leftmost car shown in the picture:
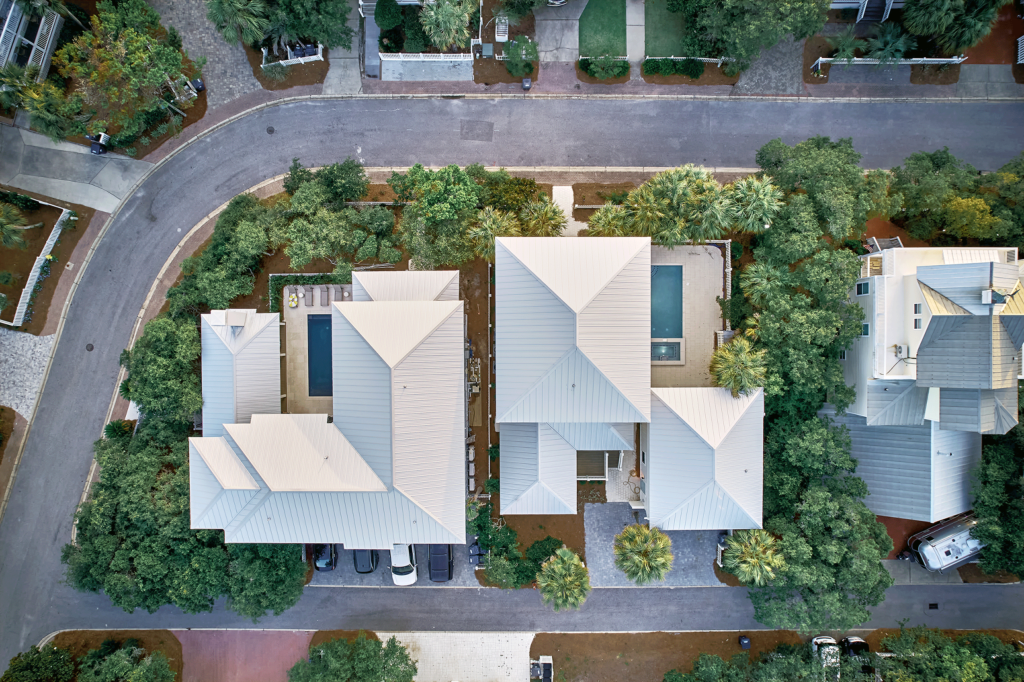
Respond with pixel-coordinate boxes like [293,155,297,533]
[310,544,337,572]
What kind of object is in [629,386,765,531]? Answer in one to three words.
building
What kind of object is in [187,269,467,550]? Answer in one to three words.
house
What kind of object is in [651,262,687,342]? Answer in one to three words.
swimming pool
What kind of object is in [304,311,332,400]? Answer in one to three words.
swimming pool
